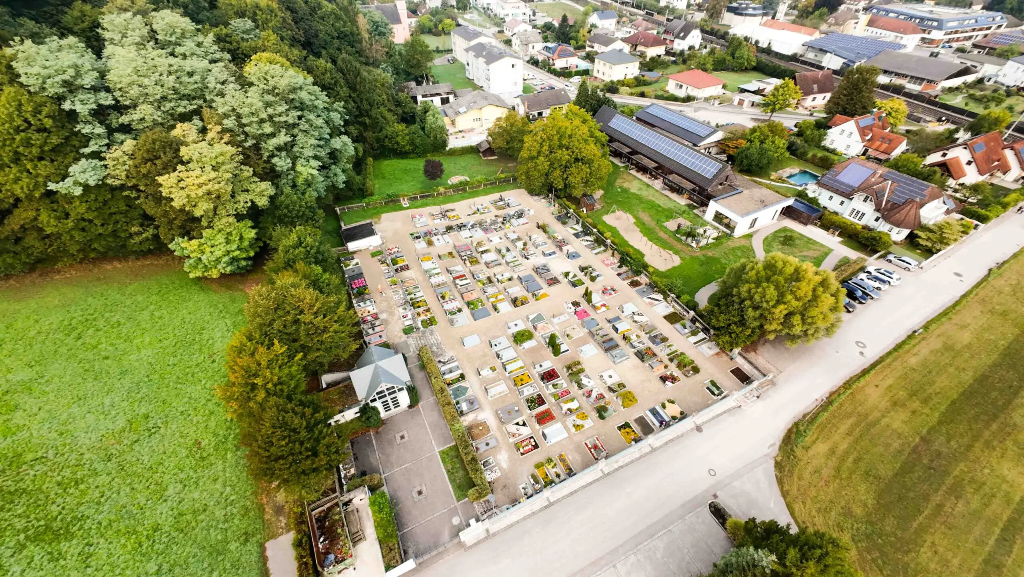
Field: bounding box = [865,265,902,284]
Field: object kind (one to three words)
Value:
car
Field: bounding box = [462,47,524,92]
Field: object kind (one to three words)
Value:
building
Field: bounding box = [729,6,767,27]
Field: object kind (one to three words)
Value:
building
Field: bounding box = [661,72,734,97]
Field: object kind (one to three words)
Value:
house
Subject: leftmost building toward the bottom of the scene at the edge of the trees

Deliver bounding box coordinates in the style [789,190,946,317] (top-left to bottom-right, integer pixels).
[351,345,409,418]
